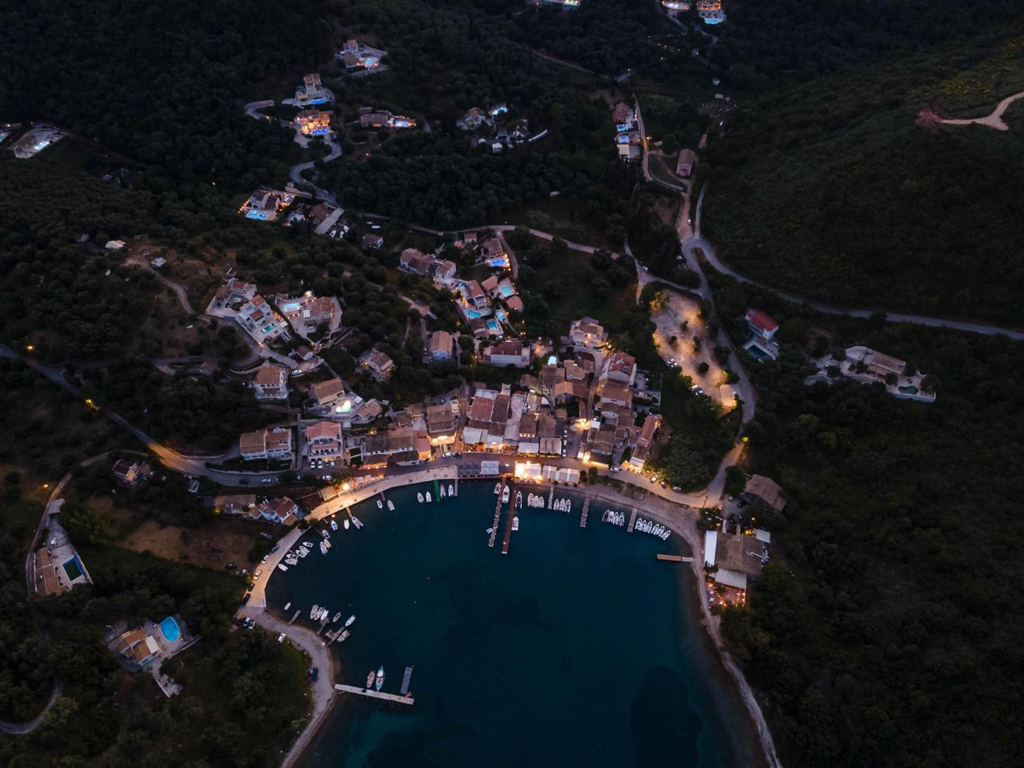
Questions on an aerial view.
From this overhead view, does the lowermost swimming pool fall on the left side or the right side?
left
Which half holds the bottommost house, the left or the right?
left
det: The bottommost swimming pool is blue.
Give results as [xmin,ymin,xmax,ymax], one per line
[159,615,182,643]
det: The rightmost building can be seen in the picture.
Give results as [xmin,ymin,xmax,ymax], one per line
[866,350,904,381]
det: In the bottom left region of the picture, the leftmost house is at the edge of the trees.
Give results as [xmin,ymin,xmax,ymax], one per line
[36,546,74,598]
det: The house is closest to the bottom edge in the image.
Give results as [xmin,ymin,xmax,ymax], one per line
[116,624,166,670]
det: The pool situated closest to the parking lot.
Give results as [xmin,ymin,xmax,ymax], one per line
[746,344,770,359]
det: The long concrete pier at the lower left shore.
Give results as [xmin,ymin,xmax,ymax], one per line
[333,682,415,707]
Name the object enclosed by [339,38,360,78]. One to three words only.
house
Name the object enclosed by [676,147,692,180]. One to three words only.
building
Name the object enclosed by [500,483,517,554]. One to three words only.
pier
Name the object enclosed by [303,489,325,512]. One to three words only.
shed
